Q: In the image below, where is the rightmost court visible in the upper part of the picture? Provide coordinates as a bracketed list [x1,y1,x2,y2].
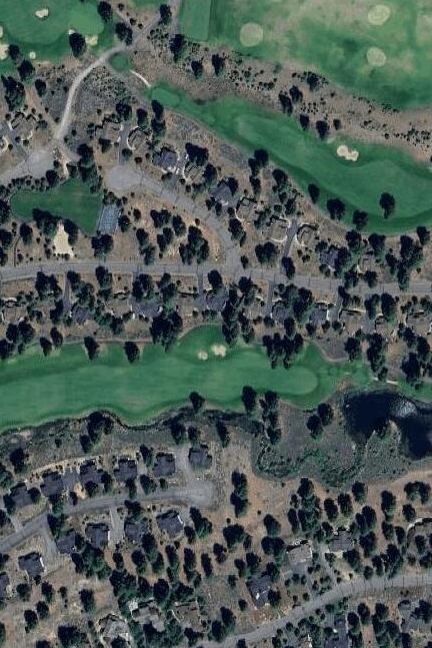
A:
[98,205,120,234]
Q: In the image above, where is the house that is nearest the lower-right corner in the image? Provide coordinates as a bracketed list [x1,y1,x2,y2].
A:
[397,611,423,636]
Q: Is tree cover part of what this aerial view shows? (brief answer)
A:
Yes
